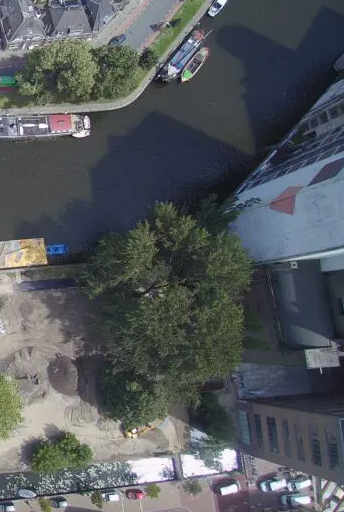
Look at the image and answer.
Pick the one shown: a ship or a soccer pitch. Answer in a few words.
ship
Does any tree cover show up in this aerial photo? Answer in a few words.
Yes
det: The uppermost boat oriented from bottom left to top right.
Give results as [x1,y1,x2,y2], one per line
[191,0,225,31]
